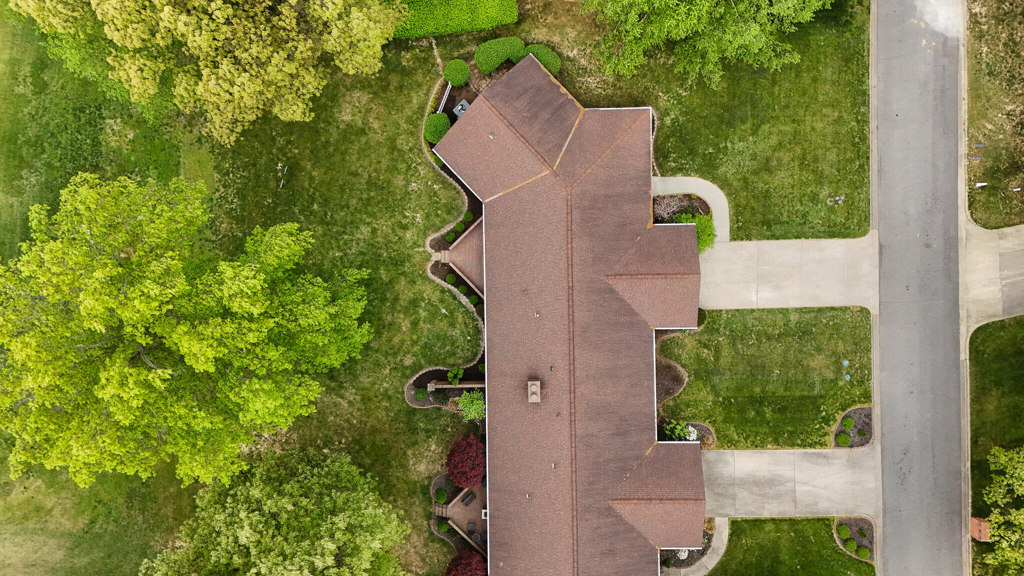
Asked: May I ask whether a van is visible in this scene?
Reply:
No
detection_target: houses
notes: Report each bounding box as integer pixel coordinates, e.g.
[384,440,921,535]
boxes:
[431,53,706,576]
